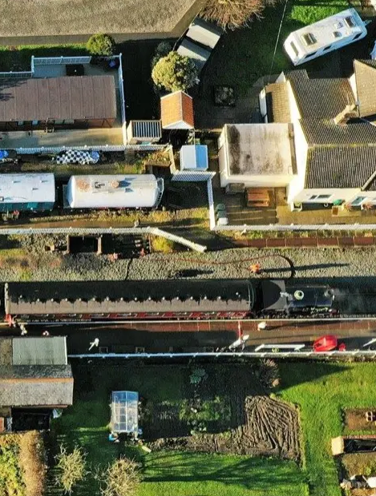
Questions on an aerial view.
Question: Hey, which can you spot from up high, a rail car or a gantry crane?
rail car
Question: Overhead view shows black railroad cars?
Yes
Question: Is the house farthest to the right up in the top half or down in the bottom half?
top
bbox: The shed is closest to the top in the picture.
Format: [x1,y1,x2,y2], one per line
[187,19,222,53]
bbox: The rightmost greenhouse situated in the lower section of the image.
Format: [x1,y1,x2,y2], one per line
[108,392,139,433]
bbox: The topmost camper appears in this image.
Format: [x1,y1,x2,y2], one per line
[280,13,357,68]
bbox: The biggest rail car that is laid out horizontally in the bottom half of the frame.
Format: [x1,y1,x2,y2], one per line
[2,279,257,321]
